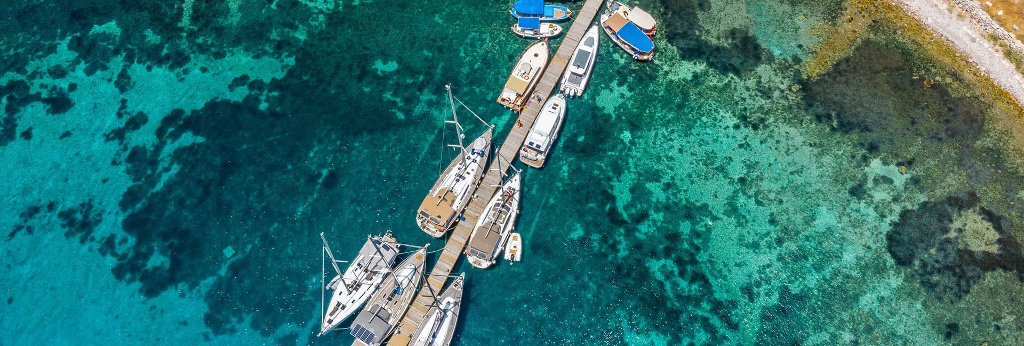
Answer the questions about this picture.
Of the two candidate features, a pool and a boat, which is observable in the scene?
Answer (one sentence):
Visible in the photo is a boat.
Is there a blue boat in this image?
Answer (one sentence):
Yes, there's a blue boat here.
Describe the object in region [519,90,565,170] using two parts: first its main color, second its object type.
white boat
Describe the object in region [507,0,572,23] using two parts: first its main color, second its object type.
blue boat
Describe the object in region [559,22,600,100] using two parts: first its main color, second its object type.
white boat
